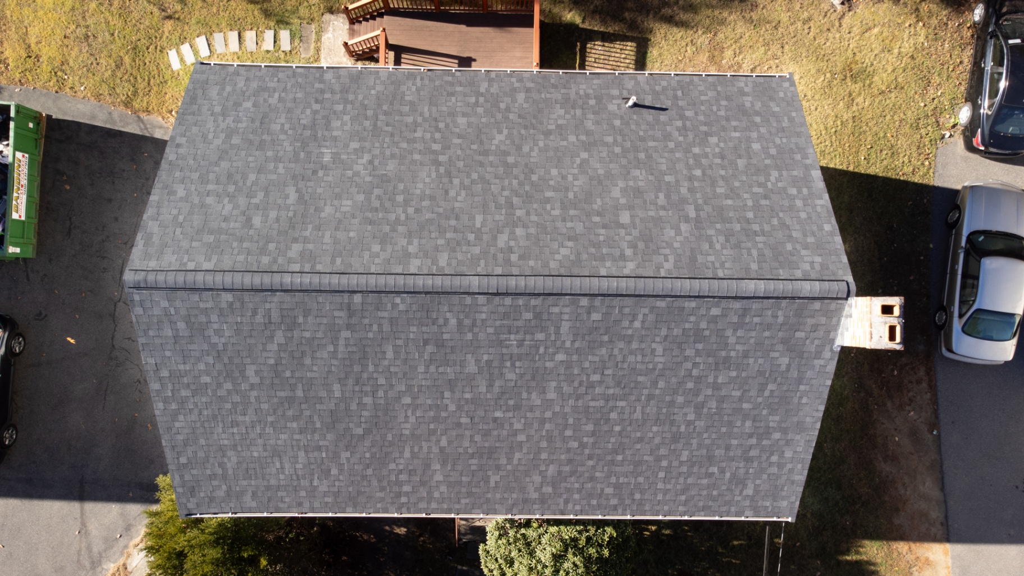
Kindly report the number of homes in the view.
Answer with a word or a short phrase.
1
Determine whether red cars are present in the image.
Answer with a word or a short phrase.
No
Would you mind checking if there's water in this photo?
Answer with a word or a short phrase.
No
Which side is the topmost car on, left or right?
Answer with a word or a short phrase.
right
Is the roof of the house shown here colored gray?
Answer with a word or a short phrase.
Yes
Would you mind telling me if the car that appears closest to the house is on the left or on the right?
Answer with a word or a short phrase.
right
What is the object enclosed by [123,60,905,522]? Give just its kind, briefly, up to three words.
house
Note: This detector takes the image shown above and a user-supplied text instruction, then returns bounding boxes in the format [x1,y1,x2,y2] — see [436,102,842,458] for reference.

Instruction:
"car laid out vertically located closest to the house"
[930,177,1024,366]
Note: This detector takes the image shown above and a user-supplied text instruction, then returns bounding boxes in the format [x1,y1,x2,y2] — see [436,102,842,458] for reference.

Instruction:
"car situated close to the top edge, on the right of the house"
[954,0,1024,162]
